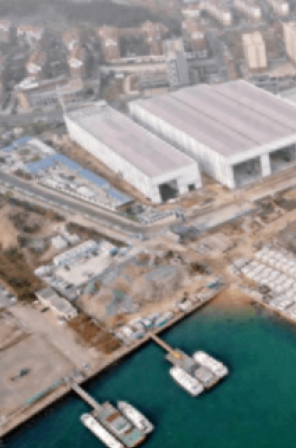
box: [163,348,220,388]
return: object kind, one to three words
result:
pier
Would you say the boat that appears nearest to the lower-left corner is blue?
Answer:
No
